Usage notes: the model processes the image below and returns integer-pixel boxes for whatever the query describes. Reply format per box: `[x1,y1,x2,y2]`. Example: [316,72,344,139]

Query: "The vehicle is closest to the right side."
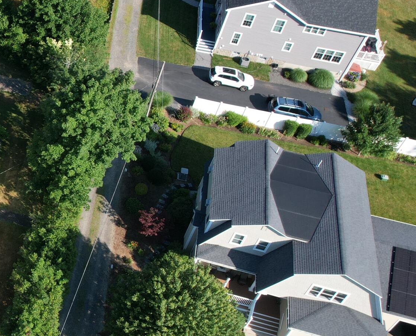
[269,91,326,121]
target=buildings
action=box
[176,139,416,336]
[189,0,390,78]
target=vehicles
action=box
[269,91,326,121]
[213,61,261,89]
